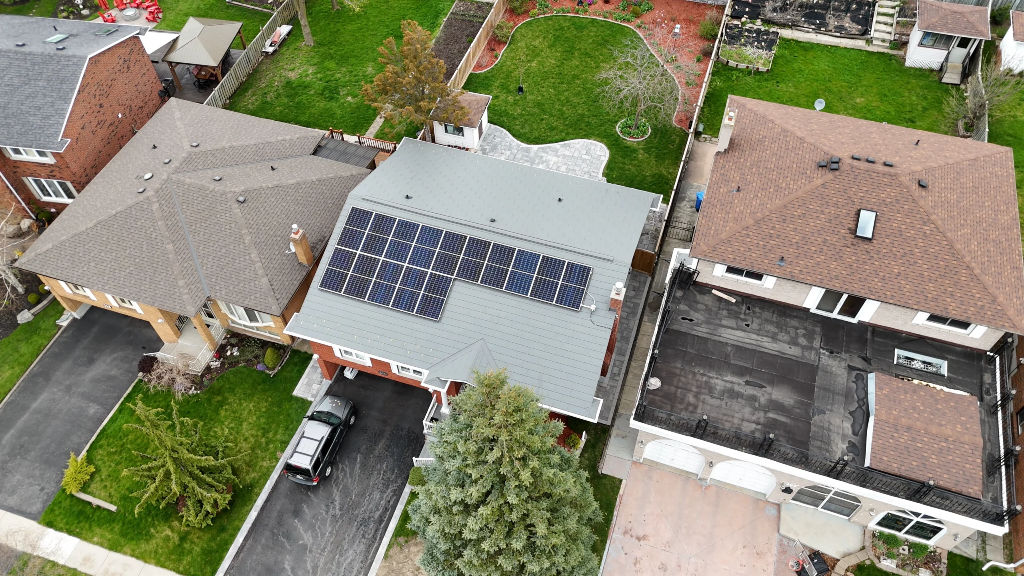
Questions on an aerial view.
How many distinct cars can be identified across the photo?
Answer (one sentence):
Altogether the scene contains 1 car.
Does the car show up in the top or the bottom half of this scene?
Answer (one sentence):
The car sits in the bottom half of the picture.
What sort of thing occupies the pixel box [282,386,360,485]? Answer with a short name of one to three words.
car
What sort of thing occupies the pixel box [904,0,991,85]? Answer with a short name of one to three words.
shed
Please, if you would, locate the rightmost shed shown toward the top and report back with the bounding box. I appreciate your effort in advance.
[995,8,1024,76]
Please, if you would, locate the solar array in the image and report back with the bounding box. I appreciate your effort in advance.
[317,206,611,330]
